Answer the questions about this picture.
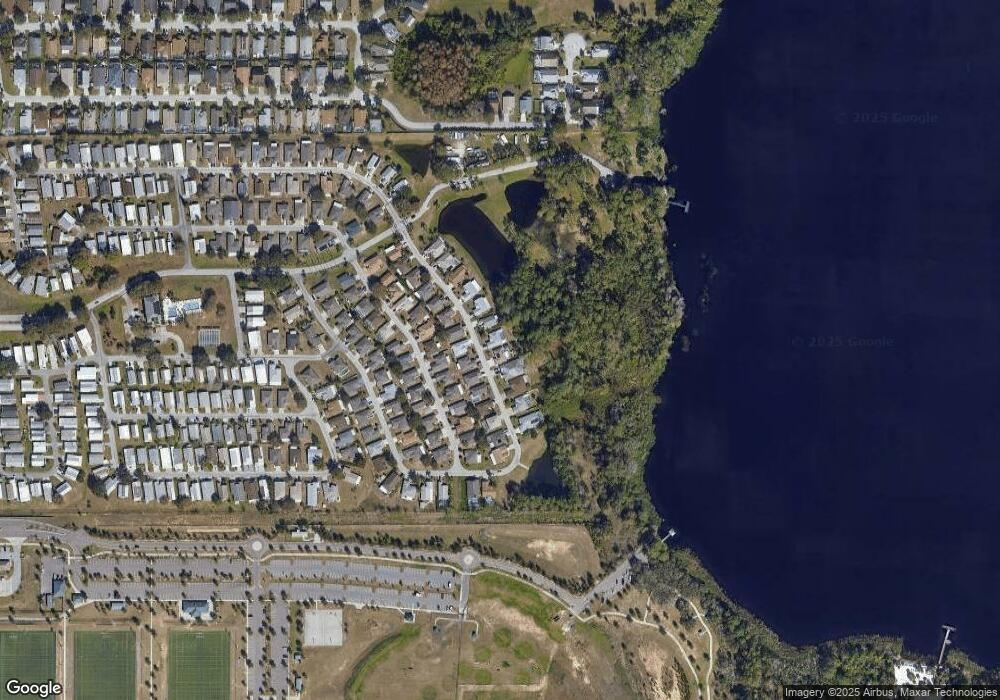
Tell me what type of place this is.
residential area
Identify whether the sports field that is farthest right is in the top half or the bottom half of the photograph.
bottom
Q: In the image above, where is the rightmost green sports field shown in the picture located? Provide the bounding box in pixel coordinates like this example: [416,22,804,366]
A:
[168,631,230,700]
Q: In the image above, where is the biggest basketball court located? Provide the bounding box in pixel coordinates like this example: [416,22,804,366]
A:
[305,609,342,646]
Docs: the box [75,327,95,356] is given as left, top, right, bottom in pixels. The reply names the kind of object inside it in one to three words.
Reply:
house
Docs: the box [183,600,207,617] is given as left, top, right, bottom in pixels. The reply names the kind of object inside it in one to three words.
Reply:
building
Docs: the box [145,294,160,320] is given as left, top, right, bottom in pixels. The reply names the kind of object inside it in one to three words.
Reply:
building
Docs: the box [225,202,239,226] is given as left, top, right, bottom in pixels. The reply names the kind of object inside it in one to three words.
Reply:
house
